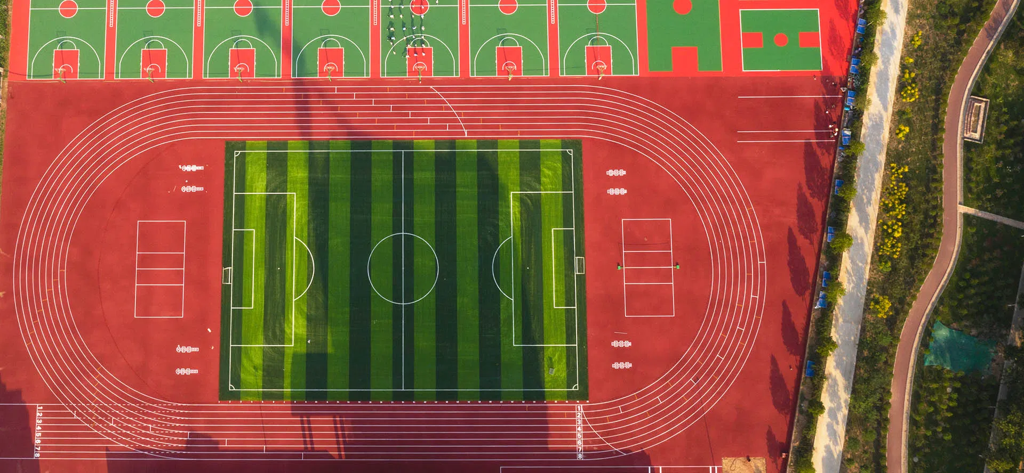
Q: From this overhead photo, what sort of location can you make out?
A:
sports ground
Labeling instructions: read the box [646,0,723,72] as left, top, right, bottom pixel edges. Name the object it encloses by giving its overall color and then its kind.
green sports court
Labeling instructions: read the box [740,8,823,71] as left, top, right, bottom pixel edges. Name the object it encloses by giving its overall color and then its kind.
green sports court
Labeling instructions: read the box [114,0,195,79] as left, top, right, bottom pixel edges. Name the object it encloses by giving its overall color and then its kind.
green basketball court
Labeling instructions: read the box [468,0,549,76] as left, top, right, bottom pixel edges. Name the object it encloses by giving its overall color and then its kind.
green basketball court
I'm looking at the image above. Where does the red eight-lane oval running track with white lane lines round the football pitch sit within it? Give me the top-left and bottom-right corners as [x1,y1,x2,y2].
[0,85,767,471]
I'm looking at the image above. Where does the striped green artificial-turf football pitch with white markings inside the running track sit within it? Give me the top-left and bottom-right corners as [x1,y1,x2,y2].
[219,139,588,401]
